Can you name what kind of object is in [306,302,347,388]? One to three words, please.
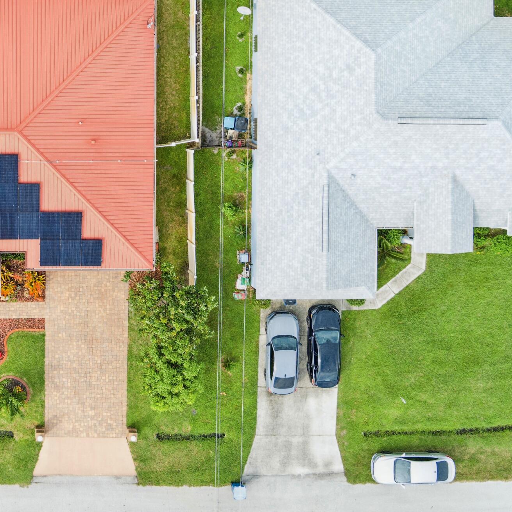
car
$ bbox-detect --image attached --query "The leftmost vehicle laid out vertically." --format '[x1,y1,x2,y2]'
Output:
[263,309,305,394]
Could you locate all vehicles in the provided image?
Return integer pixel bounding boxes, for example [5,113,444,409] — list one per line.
[306,302,347,388]
[263,309,305,394]
[371,448,458,490]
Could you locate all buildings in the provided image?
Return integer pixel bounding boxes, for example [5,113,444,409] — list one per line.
[0,0,162,296]
[245,0,512,299]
